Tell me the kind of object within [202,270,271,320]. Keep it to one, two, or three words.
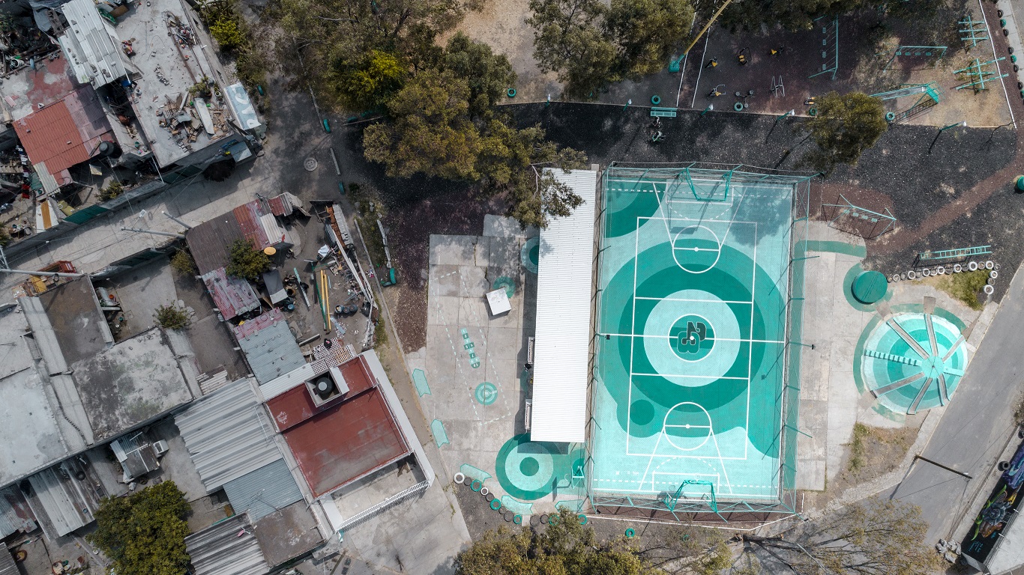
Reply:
shed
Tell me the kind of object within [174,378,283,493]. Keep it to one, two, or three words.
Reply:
shed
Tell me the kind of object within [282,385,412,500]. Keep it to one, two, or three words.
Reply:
house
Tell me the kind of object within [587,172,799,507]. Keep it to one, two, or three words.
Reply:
sports court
